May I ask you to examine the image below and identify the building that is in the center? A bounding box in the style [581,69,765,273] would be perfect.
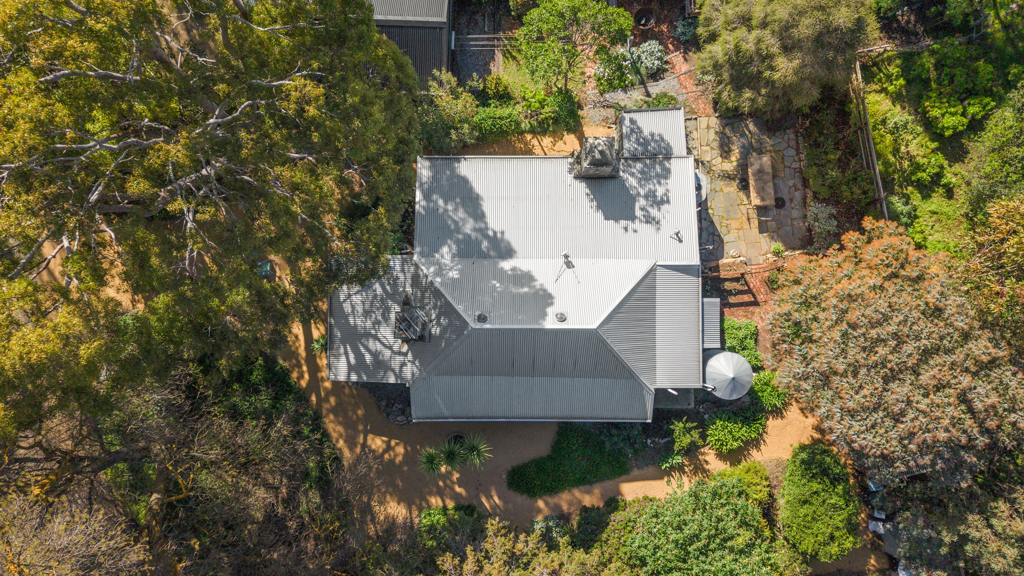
[328,104,720,425]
